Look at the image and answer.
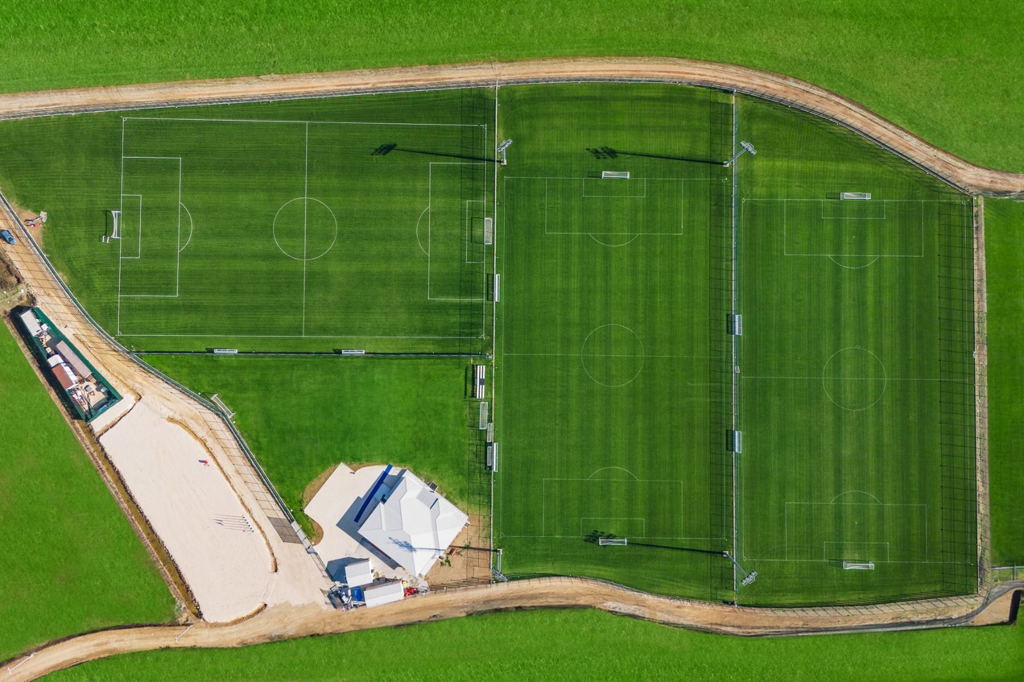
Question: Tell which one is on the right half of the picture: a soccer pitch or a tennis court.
soccer pitch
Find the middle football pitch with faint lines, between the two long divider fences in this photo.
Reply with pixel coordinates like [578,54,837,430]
[492,81,734,605]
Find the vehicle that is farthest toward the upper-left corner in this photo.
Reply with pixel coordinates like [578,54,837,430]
[2,228,17,243]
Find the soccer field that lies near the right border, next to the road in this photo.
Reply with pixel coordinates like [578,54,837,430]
[734,91,977,606]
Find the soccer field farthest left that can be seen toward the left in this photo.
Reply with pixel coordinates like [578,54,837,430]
[0,86,496,355]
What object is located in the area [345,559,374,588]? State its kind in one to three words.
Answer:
shed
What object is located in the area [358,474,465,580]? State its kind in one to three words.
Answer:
building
